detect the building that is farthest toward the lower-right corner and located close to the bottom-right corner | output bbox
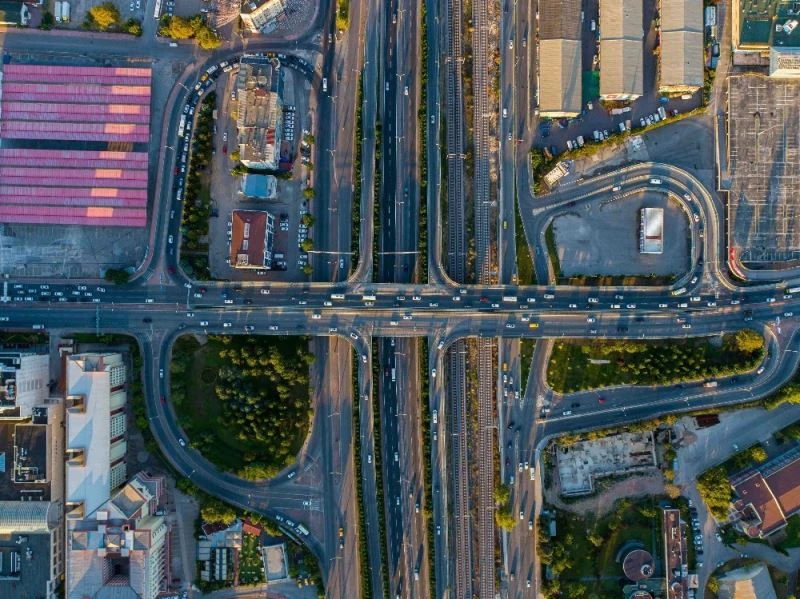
[715,560,775,599]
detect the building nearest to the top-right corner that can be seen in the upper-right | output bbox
[723,0,800,77]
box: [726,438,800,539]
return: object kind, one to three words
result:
house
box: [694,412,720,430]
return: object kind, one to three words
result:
shed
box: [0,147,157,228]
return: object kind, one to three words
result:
building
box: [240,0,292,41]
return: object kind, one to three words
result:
building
